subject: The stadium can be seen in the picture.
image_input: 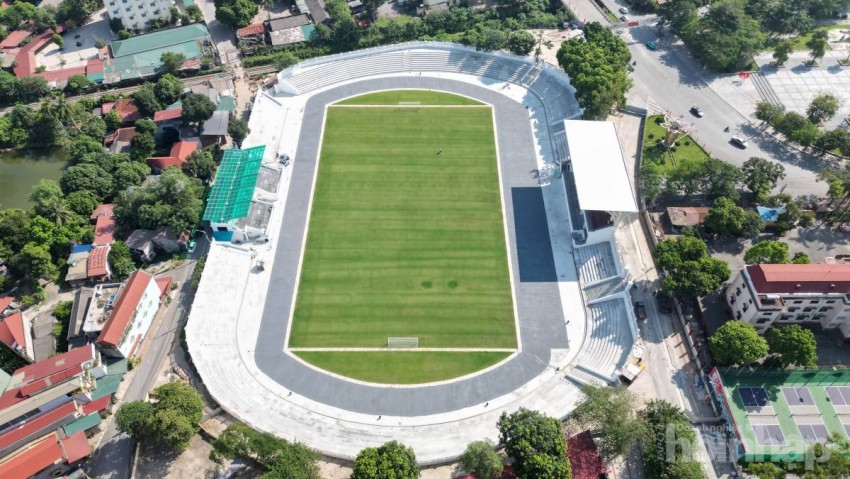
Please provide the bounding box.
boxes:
[182,43,637,467]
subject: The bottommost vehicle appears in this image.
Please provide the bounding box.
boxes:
[623,361,643,380]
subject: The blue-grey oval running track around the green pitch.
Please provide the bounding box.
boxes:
[255,76,569,416]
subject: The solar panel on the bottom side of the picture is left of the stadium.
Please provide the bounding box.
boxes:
[0,406,41,430]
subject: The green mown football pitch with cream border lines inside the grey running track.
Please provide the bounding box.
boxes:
[285,88,520,387]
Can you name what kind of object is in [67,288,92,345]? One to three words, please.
shed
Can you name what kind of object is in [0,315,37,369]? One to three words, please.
house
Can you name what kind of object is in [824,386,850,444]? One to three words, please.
sports court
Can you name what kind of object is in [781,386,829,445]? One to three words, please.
sports court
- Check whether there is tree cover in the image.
Yes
